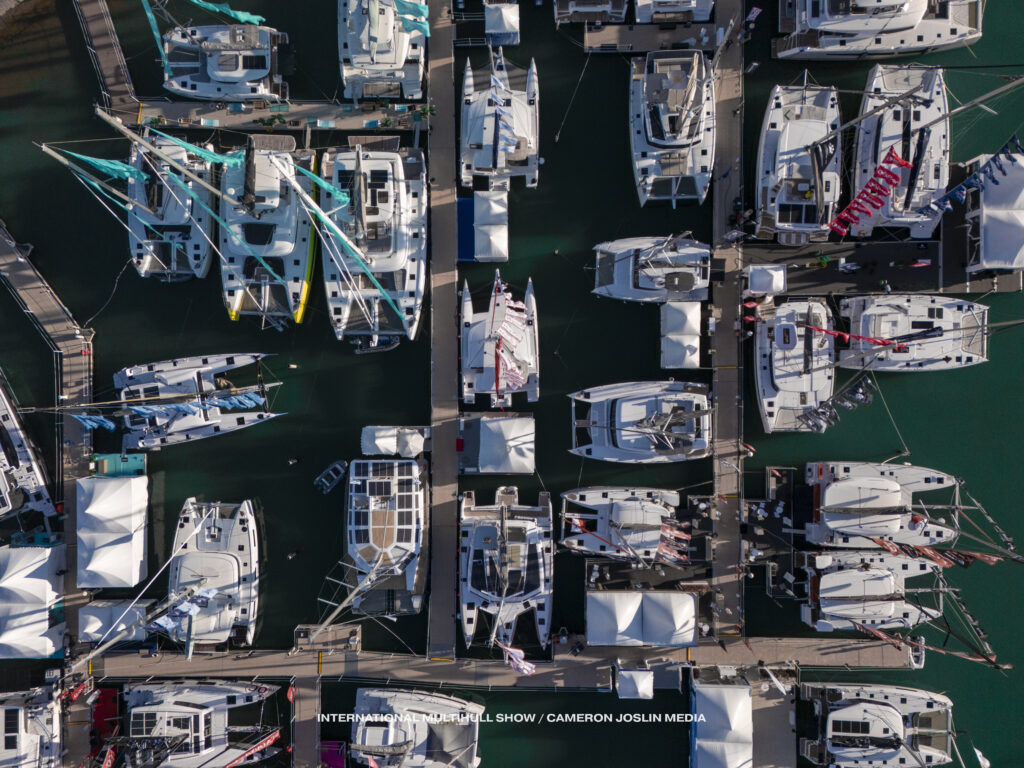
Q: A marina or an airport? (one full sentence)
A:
What you see here is a marina.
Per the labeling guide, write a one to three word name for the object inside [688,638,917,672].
pier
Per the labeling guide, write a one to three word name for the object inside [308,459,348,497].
boat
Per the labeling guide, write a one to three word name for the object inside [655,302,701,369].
tent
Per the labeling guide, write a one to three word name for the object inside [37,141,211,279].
boat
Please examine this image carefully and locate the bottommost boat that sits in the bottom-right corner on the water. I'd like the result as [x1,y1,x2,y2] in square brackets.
[799,684,967,768]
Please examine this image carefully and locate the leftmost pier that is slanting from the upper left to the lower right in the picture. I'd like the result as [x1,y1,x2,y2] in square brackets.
[0,220,95,353]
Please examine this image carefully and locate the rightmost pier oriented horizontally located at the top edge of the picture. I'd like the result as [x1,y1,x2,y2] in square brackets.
[584,24,716,54]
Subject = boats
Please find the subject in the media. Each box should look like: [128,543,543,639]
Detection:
[757,297,900,432]
[568,380,728,463]
[805,463,1024,563]
[37,141,211,279]
[349,333,399,354]
[267,136,432,341]
[340,690,483,768]
[64,498,256,677]
[910,636,925,672]
[799,684,967,768]
[308,459,348,497]
[337,0,425,100]
[138,0,289,99]
[754,73,926,245]
[560,489,684,570]
[91,103,320,323]
[800,552,1021,671]
[855,59,1024,238]
[637,0,712,24]
[295,459,427,653]
[555,0,627,24]
[87,684,285,768]
[837,293,1024,372]
[0,686,60,768]
[9,353,291,453]
[632,15,735,200]
[0,370,60,533]
[456,486,553,662]
[771,0,986,59]
[592,229,719,306]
